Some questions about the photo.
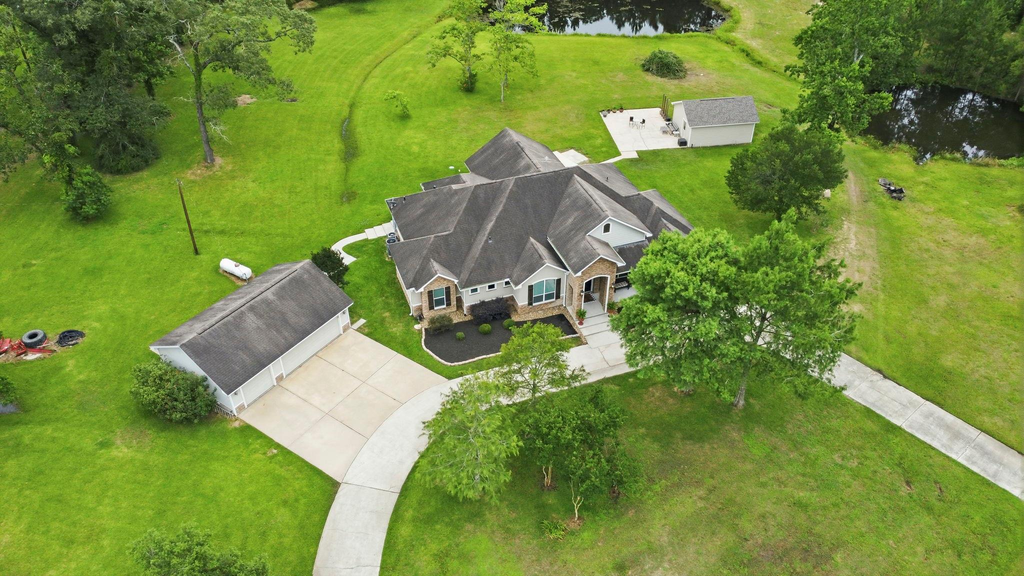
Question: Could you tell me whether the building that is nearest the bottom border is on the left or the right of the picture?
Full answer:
The building that is nearest the bottom border appears in the left half of the scene.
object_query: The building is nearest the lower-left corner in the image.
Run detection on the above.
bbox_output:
[149,259,355,417]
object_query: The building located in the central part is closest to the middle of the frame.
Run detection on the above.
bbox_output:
[378,127,691,344]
